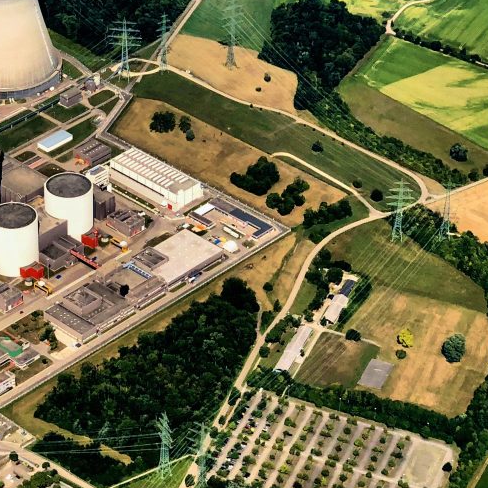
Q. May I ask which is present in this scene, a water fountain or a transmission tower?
transmission tower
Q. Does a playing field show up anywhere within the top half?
No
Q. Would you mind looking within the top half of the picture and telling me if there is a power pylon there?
Yes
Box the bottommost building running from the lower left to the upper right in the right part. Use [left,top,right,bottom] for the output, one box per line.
[273,324,314,375]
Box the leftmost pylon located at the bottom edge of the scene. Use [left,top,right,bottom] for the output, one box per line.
[155,412,177,482]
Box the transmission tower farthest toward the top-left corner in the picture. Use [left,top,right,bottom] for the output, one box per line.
[110,21,141,77]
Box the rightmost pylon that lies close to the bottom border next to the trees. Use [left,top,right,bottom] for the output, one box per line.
[191,420,211,482]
